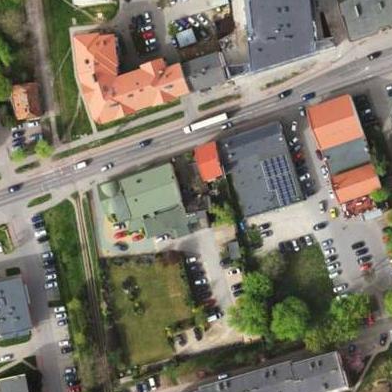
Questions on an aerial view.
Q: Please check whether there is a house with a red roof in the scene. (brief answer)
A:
Yes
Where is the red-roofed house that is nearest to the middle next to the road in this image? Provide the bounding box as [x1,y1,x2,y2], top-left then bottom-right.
[193,141,226,183]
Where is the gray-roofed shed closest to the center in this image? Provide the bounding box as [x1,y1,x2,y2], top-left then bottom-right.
[186,208,209,232]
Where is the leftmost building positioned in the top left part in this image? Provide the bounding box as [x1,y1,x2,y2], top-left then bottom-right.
[11,81,46,122]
